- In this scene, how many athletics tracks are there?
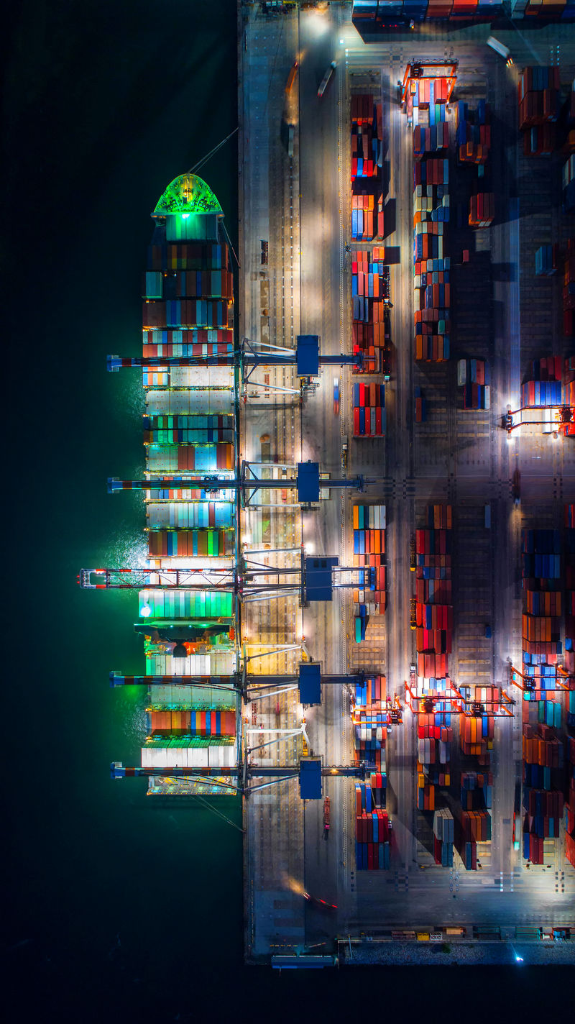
none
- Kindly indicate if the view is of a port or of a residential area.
port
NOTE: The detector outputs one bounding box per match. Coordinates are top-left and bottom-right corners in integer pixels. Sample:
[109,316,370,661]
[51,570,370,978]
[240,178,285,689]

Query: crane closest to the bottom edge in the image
[107,708,380,799]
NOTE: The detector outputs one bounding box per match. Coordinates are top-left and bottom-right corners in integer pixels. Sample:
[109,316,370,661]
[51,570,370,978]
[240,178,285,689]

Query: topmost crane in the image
[401,61,461,116]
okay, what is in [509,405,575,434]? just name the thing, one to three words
container crane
